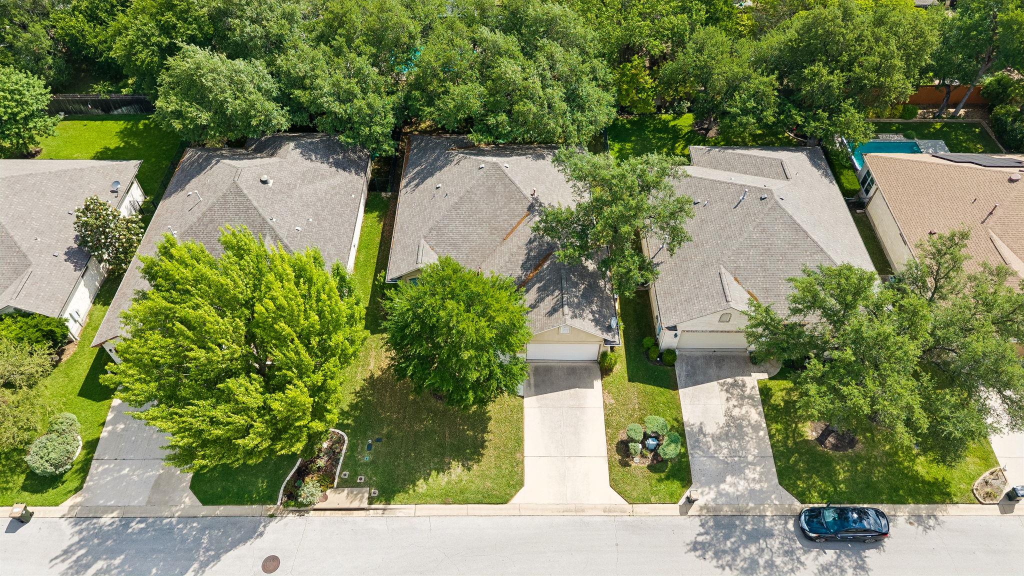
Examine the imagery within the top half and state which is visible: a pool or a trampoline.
pool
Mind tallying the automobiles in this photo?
one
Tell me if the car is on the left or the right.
right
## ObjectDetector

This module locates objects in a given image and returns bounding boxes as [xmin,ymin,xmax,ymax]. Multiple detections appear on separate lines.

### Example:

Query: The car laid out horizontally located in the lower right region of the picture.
[797,504,896,548]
